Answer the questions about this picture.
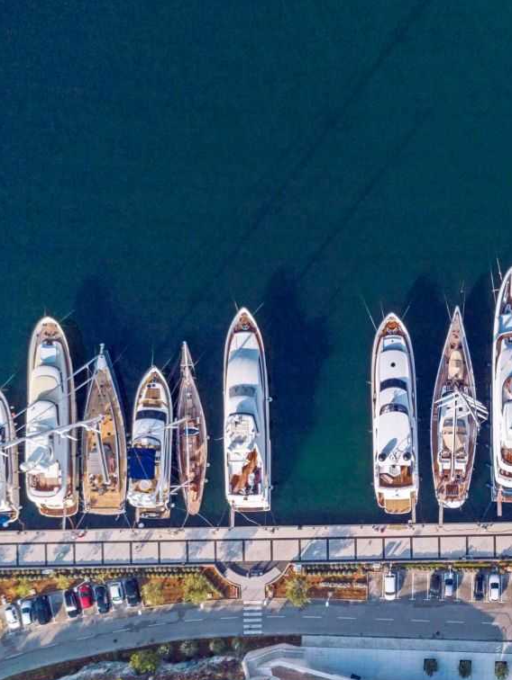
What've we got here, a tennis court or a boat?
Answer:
boat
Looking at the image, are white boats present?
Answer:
Yes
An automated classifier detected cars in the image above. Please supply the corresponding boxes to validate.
[127,578,141,605]
[430,575,441,600]
[35,593,54,624]
[111,581,126,604]
[5,602,22,626]
[488,573,500,600]
[472,573,485,600]
[80,584,95,609]
[442,571,455,596]
[21,599,36,625]
[65,589,82,617]
[96,586,111,612]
